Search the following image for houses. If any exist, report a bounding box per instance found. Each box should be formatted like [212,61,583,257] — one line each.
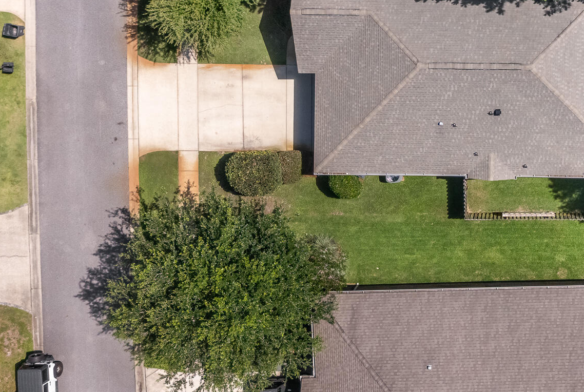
[298,280,584,392]
[291,0,584,181]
